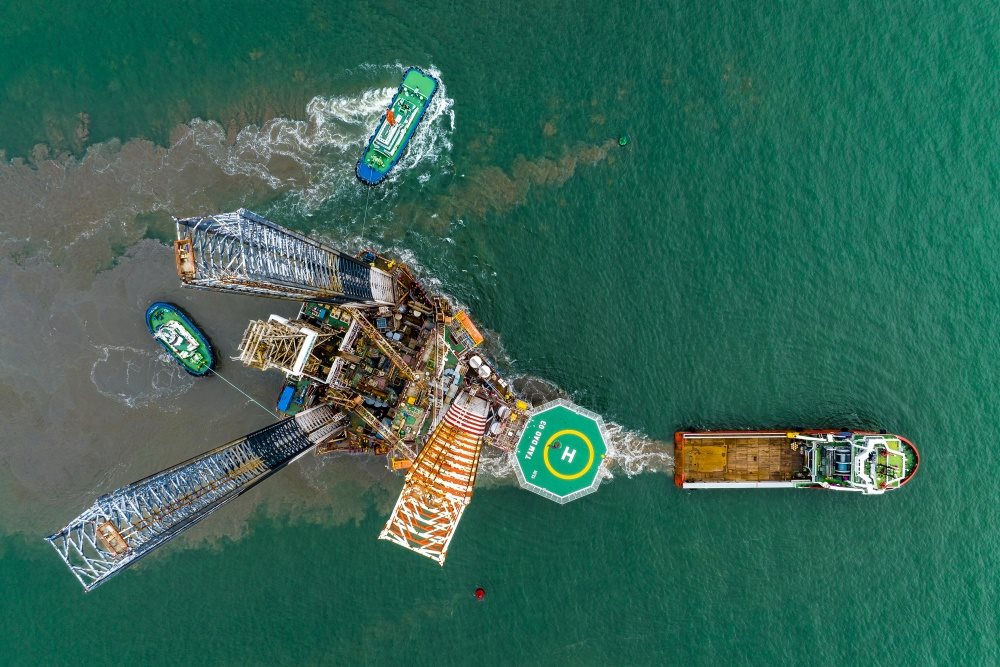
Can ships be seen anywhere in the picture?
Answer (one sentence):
Yes, you can see a ship in this photo.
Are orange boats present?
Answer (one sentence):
Yes, the photo shows an orange boat.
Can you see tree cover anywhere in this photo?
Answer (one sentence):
No, there is no tree cover in the image.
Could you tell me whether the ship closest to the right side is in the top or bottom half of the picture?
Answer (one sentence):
The ship closest to the right side is in the bottom half of the image.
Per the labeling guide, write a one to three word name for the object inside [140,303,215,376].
boat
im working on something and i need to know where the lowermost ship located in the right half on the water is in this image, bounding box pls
[677,430,920,494]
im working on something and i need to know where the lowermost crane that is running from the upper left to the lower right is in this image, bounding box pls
[346,387,422,456]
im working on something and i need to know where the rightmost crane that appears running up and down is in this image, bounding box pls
[431,301,447,427]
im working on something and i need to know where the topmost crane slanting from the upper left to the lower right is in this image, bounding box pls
[345,307,431,389]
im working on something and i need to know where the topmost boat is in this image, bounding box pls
[356,60,441,186]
